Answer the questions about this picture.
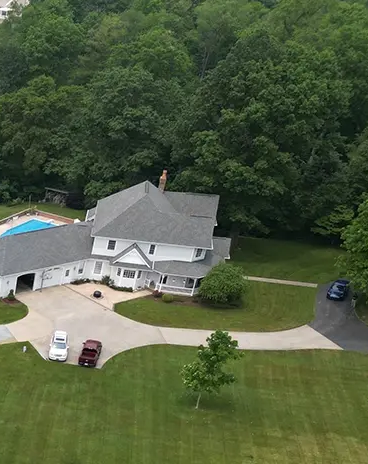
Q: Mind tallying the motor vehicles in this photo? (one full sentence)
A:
My tally gives 3 motor vehicles in this view.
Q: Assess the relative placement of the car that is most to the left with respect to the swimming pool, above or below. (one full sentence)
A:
The position of the car that is most to the left is below the swimming pool.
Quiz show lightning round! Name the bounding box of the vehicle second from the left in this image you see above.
[73,334,98,362]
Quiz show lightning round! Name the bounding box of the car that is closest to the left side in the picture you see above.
[45,330,69,357]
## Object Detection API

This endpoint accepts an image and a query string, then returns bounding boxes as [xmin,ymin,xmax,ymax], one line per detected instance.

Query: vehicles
[73,334,98,362]
[45,330,69,357]
[323,280,346,300]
